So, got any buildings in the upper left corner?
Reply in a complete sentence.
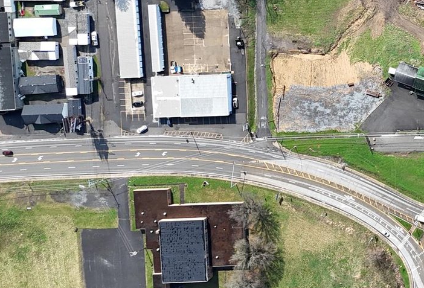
Yes, the scene does show a building in the upper left corner.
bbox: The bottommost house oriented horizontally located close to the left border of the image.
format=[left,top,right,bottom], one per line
[19,100,85,124]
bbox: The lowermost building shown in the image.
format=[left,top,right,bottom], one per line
[134,189,247,288]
